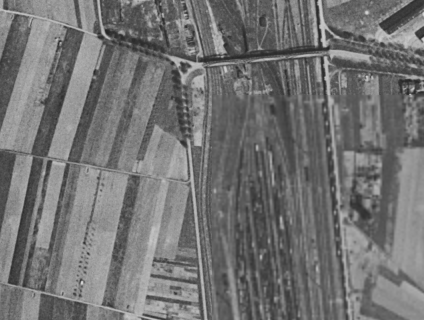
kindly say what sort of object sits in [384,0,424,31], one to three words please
building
